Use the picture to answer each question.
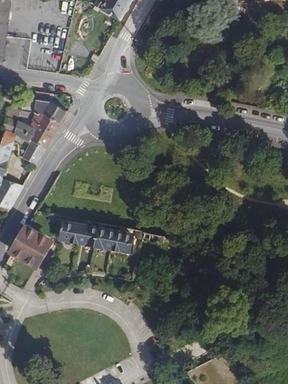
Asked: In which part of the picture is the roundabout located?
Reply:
top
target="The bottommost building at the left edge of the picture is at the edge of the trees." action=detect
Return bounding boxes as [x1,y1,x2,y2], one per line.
[7,224,54,271]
